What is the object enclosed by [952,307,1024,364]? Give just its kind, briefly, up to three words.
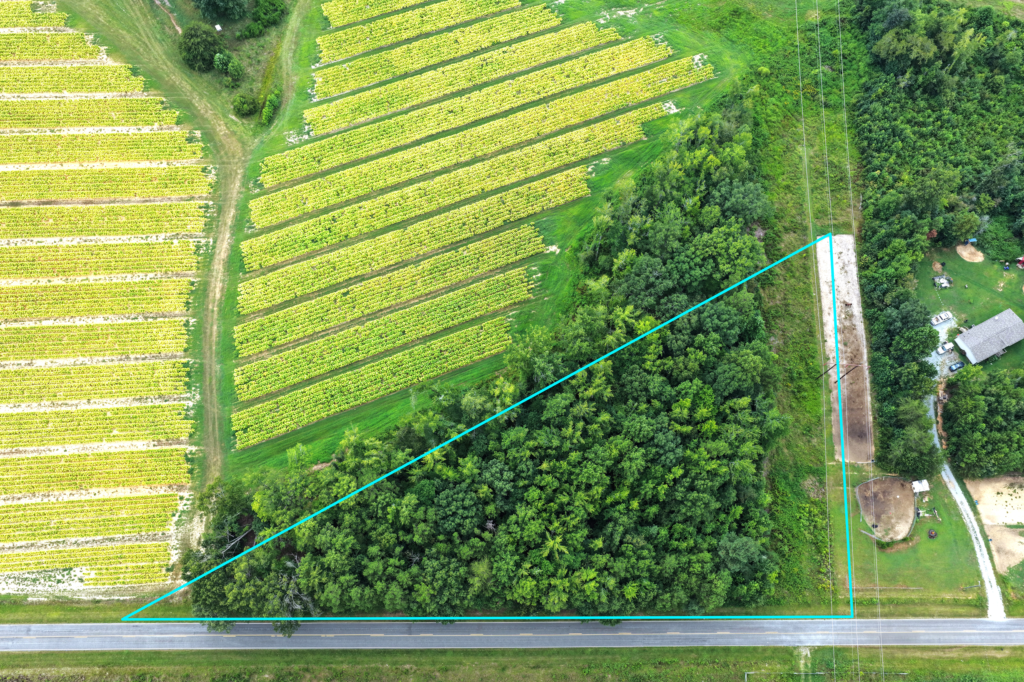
house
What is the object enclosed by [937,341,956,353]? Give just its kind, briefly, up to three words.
vehicle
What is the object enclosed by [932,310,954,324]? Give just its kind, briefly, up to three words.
vehicle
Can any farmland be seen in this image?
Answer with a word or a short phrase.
Yes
